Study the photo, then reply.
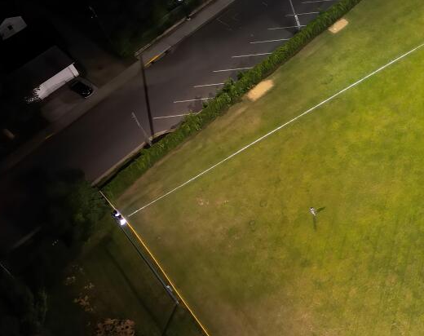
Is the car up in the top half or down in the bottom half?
top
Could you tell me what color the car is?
black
